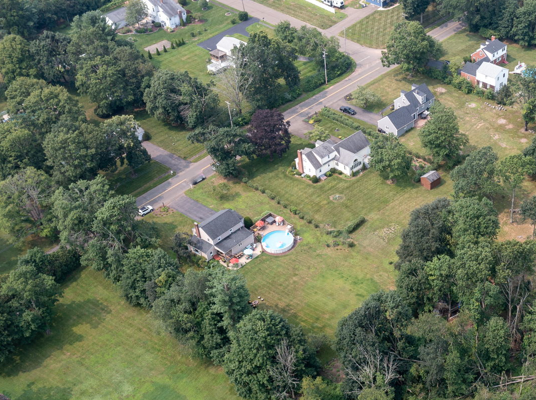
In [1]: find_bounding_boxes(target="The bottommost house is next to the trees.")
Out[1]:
[184,206,253,261]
